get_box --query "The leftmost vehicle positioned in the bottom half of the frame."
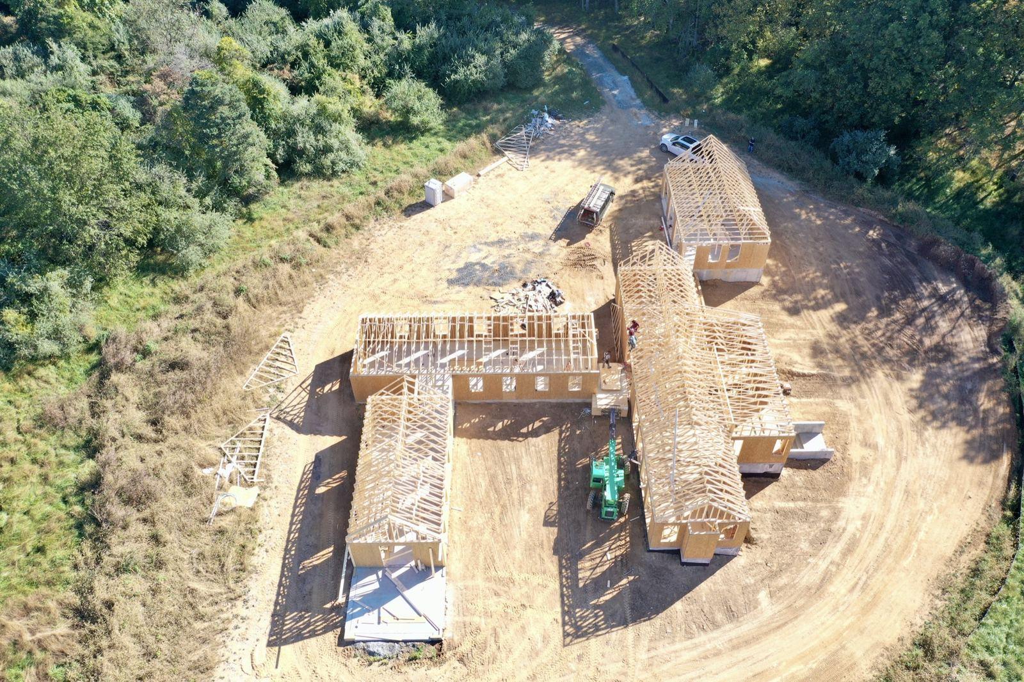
[586,407,629,520]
